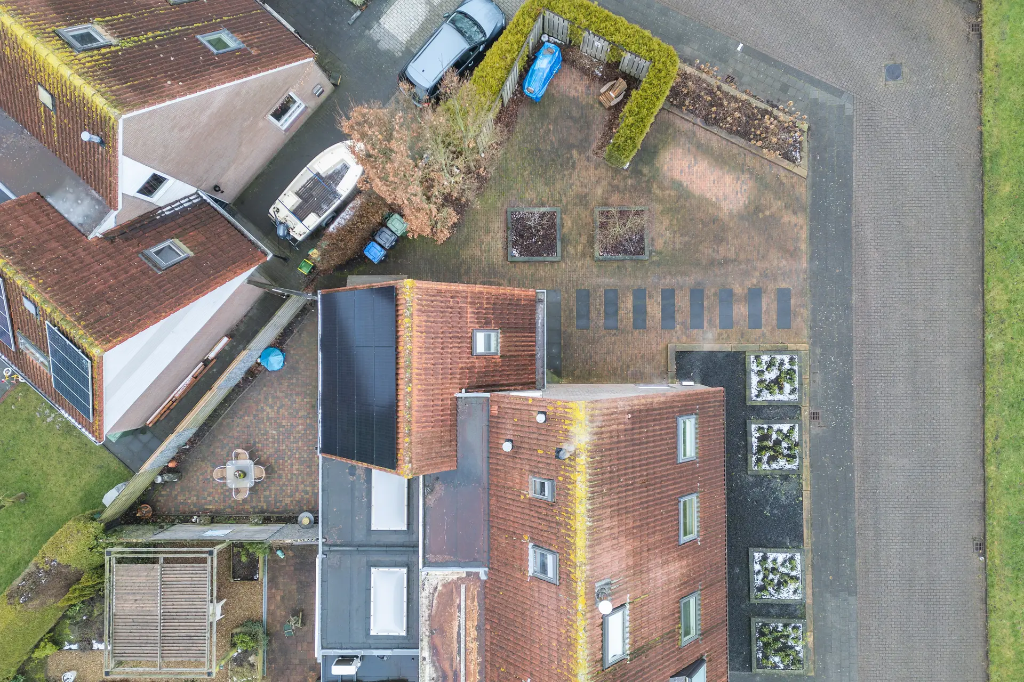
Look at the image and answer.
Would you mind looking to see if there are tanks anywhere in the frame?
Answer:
No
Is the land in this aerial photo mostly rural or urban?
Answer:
urban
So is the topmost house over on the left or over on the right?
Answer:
left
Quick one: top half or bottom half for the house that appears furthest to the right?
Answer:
bottom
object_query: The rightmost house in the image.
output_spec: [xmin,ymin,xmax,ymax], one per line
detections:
[478,380,732,682]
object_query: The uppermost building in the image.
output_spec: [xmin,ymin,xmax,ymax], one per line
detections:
[0,0,333,228]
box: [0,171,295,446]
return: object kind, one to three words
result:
house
